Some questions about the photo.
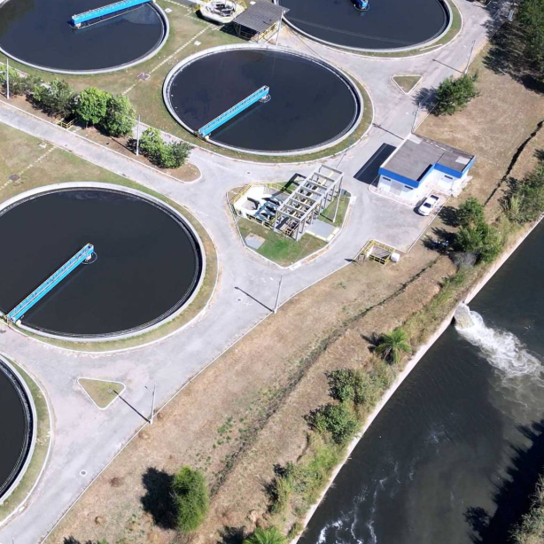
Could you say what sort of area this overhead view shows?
industrial area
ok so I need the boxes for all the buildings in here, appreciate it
[233,0,289,51]
[377,132,474,203]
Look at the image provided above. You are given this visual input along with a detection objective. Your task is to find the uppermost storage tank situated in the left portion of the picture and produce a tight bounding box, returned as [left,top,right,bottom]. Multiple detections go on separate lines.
[0,0,170,74]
